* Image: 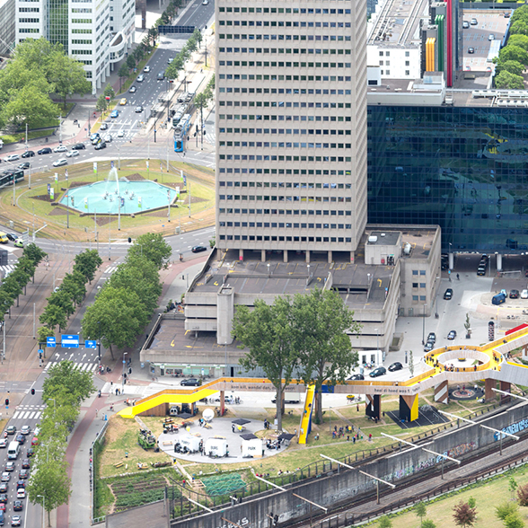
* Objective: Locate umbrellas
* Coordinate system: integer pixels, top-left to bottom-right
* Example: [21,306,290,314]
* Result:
[230,419,251,435]
[276,434,297,442]
[237,434,258,442]
[175,412,195,429]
